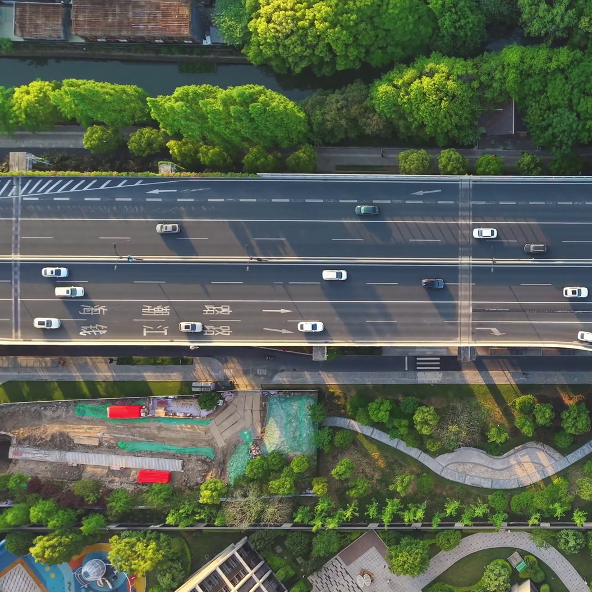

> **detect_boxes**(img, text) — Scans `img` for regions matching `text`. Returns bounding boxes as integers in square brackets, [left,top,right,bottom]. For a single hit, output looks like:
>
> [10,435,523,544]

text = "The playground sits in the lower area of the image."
[0,538,148,592]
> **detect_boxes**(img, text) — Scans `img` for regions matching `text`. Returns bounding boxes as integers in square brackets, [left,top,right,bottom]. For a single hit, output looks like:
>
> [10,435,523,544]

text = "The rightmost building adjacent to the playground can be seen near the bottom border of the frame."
[184,537,290,592]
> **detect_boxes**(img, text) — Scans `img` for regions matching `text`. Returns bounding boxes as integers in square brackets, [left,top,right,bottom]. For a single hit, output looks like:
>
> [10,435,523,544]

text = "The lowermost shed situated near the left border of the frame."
[9,445,187,471]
